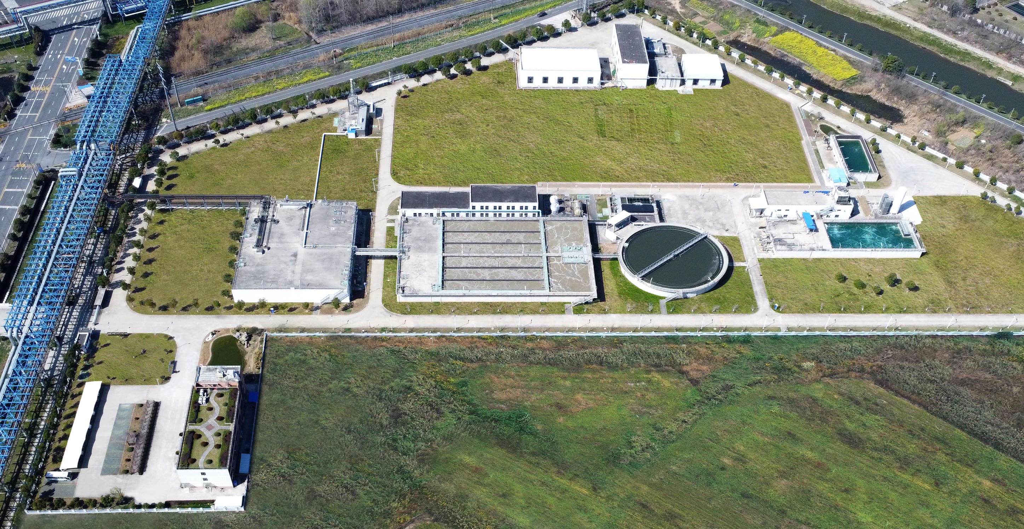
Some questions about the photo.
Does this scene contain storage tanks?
Yes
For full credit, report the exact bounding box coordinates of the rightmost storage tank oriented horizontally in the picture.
[765,217,924,260]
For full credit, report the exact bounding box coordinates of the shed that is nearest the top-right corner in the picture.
[828,168,848,188]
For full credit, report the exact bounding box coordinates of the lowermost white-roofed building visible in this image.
[214,496,243,508]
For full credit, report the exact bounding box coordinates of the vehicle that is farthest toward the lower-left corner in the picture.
[42,470,76,484]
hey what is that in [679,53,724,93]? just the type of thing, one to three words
building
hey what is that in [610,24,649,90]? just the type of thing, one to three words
building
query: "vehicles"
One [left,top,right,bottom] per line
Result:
[42,470,76,484]
[537,10,548,16]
